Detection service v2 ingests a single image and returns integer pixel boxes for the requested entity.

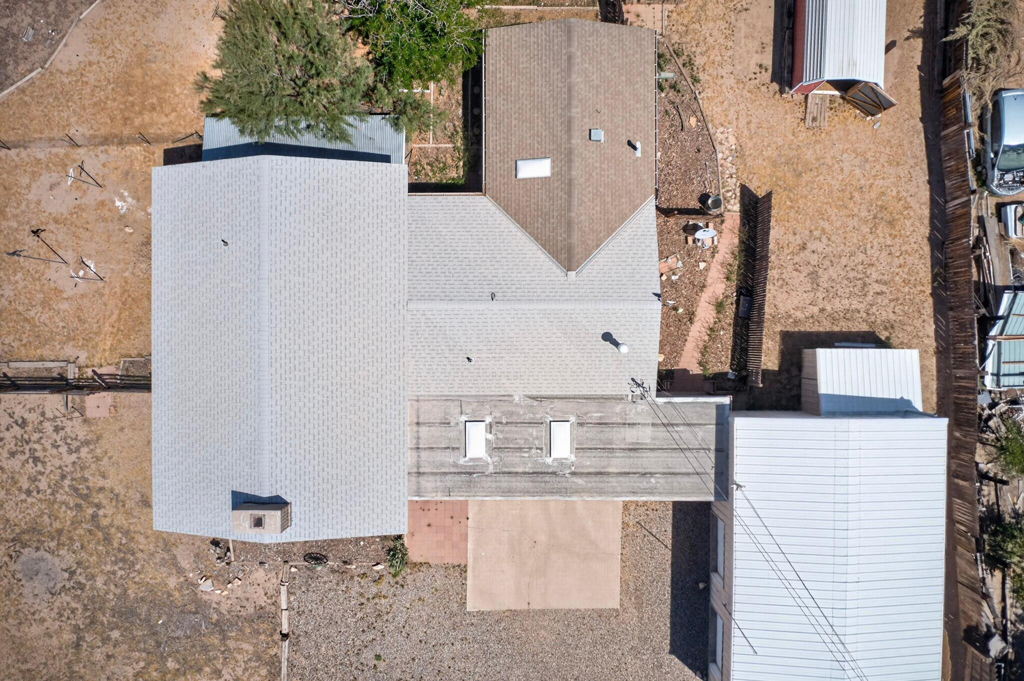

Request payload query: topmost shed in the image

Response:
[791,0,893,117]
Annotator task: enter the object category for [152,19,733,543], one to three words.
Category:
house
